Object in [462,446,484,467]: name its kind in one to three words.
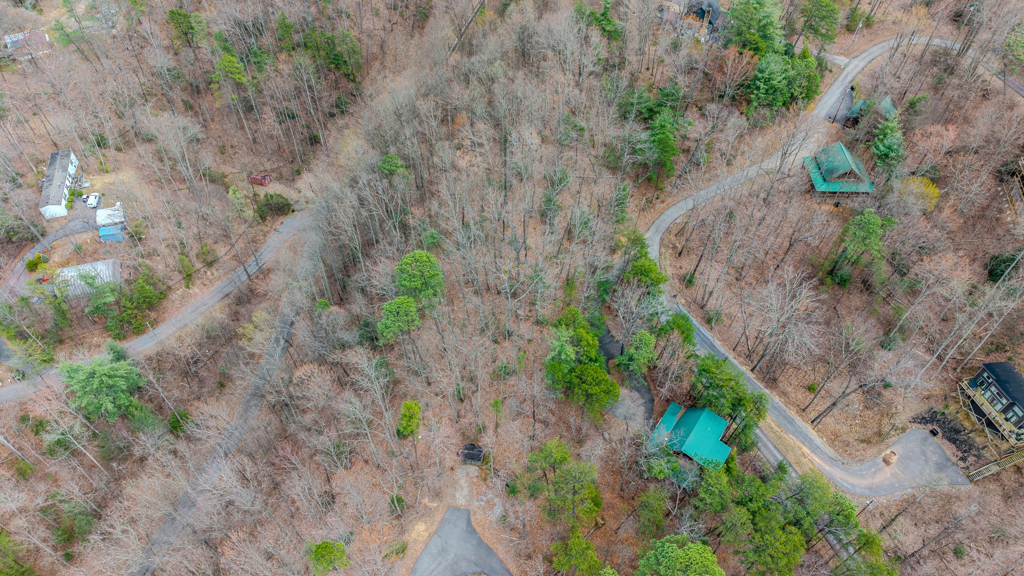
shed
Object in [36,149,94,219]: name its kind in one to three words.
house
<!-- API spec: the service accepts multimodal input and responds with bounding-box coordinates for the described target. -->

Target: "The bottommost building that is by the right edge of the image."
[949,361,1024,477]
